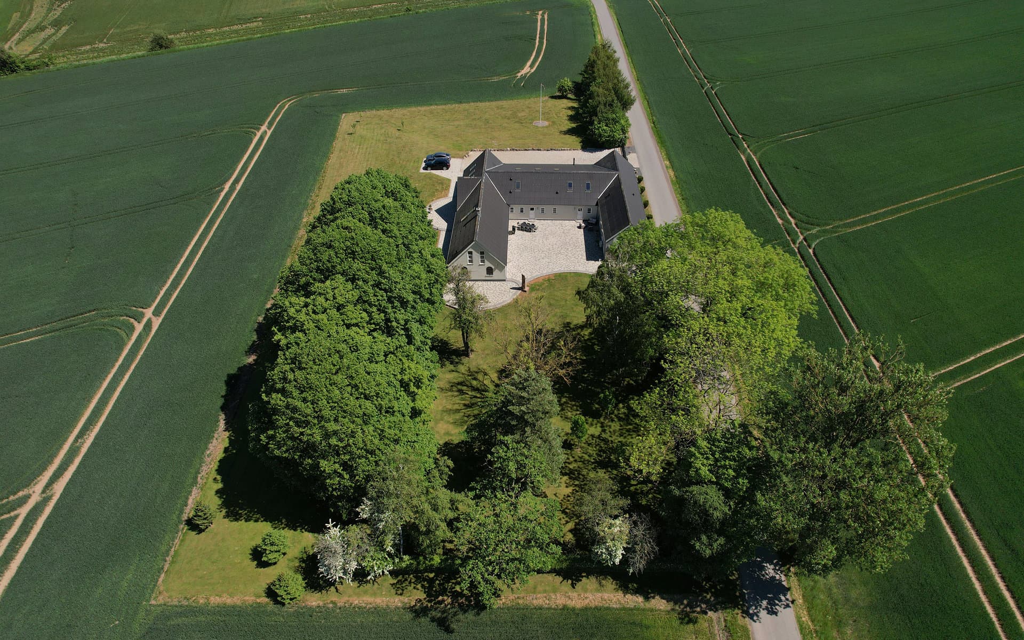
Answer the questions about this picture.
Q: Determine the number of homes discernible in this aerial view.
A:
one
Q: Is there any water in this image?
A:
No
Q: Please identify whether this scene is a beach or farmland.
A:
farmland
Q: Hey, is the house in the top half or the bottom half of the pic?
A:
top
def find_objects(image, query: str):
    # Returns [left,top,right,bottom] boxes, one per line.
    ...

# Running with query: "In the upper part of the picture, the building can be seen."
[447,149,647,280]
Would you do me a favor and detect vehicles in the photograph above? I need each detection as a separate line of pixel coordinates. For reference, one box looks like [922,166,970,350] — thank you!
[424,151,452,161]
[426,157,451,169]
